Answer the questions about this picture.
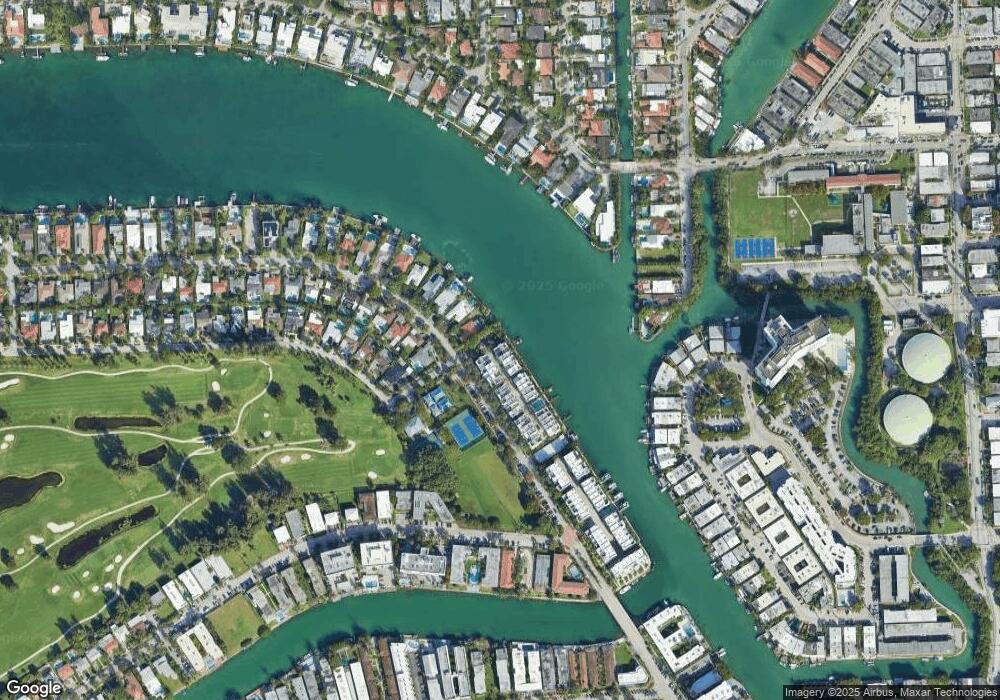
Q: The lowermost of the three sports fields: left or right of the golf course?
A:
to the right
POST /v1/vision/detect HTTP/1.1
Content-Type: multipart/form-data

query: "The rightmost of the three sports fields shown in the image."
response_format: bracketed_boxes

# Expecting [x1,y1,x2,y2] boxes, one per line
[793,193,853,238]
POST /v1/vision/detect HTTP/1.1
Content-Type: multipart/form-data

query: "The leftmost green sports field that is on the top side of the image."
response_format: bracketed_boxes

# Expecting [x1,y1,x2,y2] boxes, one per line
[730,167,812,251]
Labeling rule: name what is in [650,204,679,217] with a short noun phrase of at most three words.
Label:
house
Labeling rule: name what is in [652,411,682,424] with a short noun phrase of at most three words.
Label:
building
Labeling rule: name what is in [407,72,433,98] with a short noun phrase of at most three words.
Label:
house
